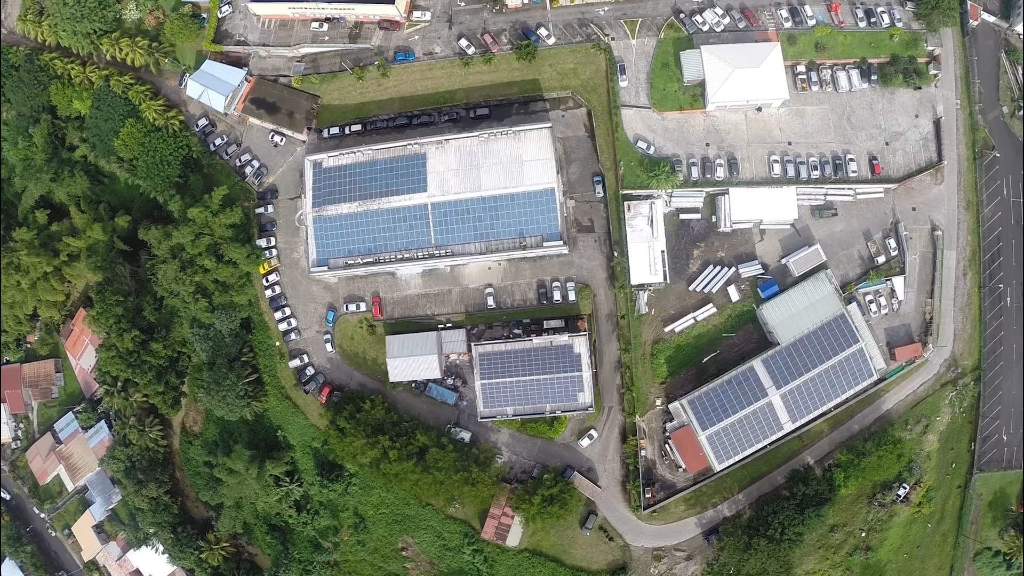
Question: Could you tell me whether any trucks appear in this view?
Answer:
Yes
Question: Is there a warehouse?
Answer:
Yes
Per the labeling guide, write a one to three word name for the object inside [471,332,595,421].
building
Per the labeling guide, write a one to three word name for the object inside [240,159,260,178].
car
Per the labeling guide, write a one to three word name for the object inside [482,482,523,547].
house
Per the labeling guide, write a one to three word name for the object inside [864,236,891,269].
truck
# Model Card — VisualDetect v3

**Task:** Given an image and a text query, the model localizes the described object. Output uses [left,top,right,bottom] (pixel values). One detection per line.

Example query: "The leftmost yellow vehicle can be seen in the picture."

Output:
[261,259,282,271]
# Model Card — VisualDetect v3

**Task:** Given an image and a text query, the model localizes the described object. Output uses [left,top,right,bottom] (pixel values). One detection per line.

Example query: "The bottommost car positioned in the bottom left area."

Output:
[43,519,60,538]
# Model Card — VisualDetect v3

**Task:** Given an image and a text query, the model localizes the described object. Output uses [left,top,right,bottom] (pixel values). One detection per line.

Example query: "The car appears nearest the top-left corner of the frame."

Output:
[178,71,192,91]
